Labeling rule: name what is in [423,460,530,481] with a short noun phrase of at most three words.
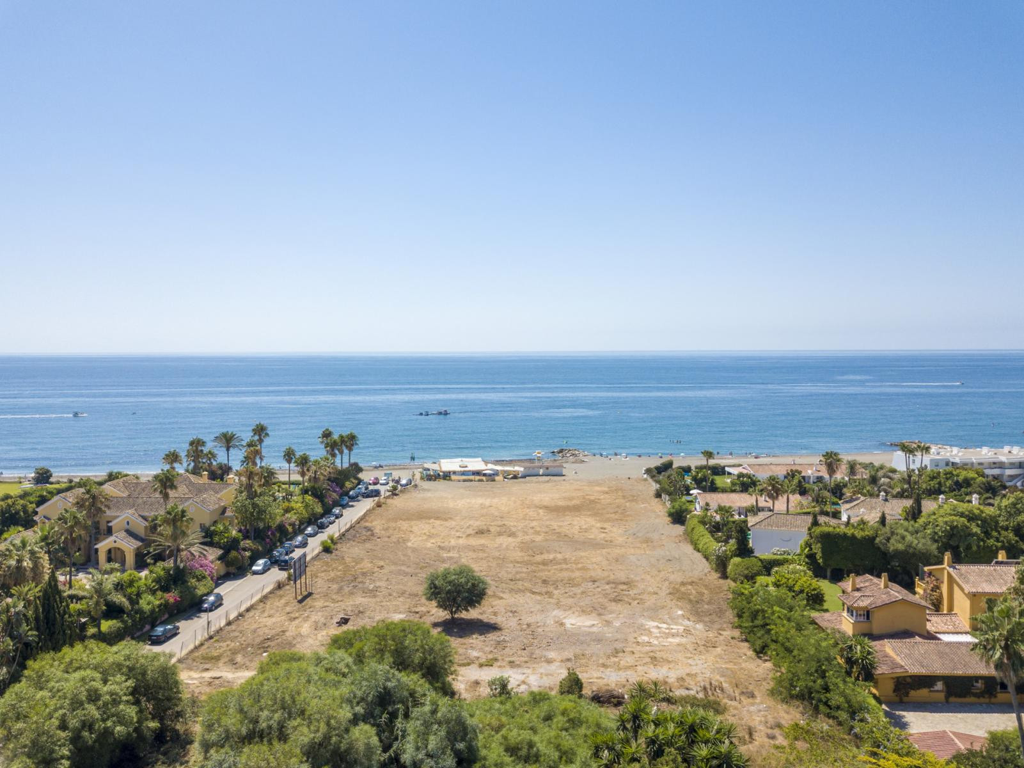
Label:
building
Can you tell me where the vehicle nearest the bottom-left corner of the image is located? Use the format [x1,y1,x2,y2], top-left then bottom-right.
[149,625,180,643]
